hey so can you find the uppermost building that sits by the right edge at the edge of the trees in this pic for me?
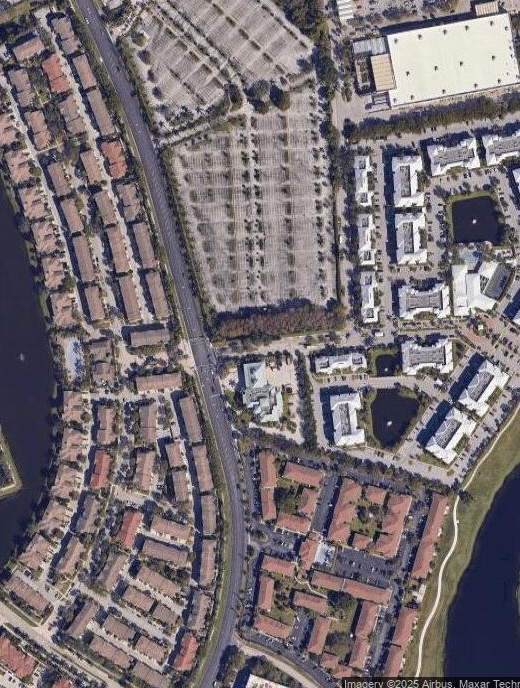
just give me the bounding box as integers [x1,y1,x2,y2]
[387,14,520,107]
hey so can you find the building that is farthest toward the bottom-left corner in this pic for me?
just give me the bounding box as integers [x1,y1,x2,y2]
[0,639,32,675]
